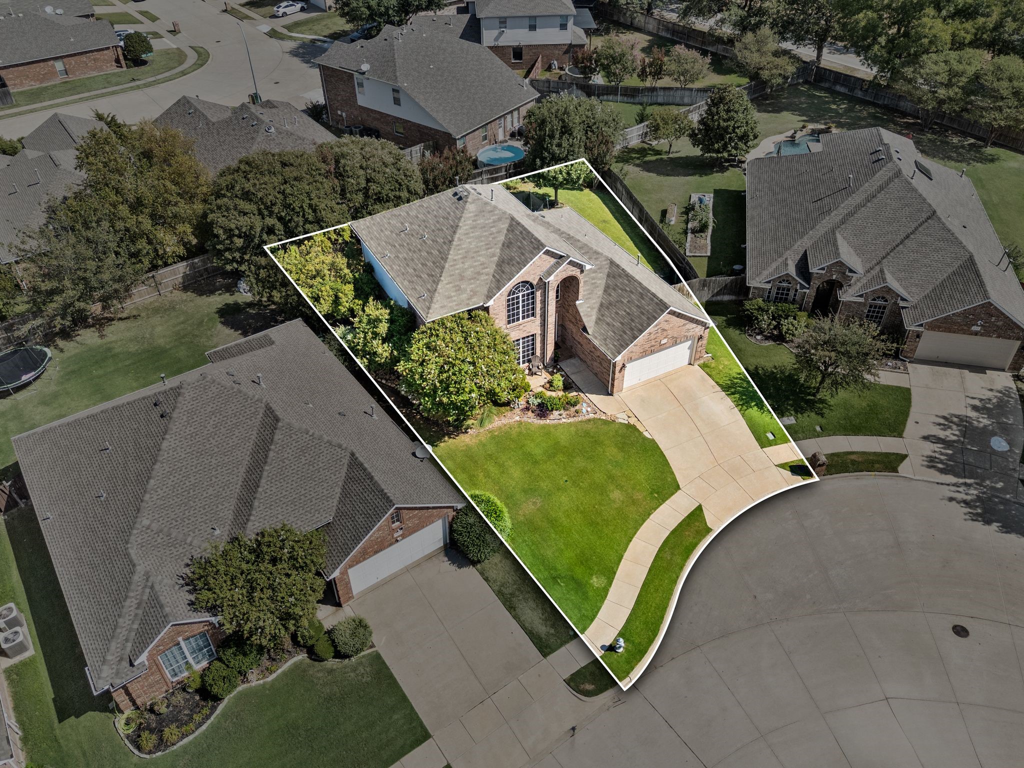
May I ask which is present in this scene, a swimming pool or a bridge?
swimming pool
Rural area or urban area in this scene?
urban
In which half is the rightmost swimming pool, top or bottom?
top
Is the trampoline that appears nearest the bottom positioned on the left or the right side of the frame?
left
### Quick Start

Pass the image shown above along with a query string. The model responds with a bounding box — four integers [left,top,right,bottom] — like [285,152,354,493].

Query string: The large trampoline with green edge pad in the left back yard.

[0,313,61,393]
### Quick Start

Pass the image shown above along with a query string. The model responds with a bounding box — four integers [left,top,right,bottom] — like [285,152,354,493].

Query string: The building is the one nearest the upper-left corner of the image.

[0,0,126,91]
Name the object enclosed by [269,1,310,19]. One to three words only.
car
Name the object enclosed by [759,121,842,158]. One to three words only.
swimming pool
